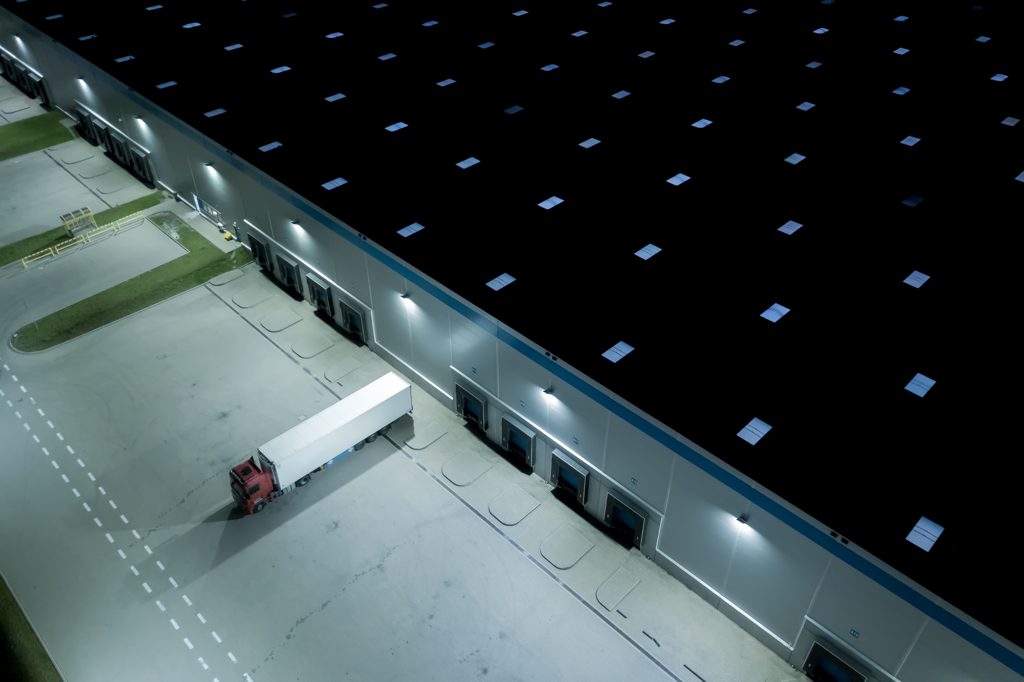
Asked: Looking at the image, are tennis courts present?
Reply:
No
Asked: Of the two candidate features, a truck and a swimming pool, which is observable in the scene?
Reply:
truck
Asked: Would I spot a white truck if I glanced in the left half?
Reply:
Yes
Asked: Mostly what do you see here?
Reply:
buildings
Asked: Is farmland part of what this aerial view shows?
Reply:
No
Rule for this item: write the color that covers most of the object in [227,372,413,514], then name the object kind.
white truck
